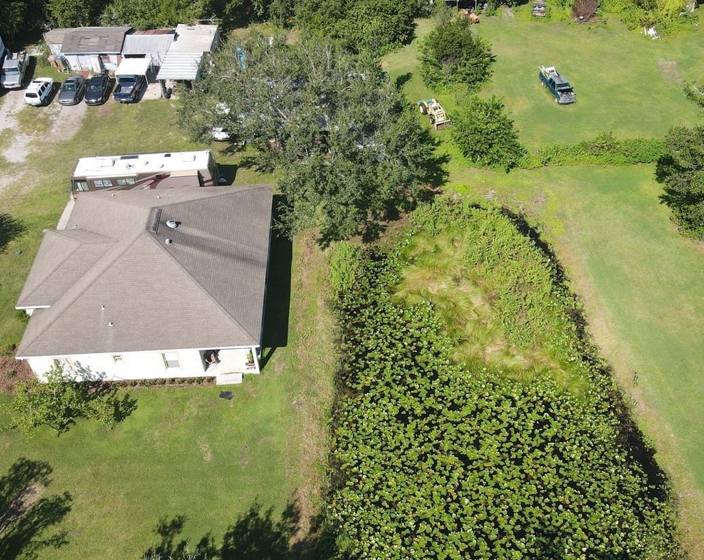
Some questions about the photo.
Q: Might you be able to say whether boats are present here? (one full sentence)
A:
No, the frame has no boat in it.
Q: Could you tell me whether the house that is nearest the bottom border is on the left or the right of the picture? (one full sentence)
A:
It is on the left.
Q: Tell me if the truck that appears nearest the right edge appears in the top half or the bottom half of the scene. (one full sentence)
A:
The truck that appears nearest the right edge is in the top half of the image.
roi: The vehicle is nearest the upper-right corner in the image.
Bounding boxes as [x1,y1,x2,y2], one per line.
[537,64,579,102]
